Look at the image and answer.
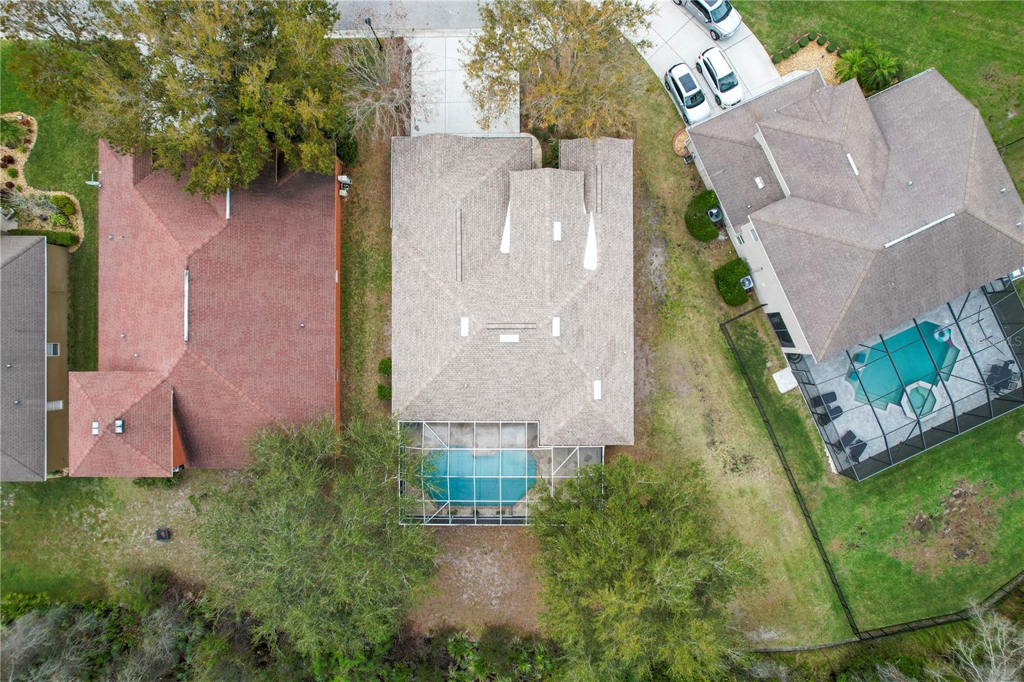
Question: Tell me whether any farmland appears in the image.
No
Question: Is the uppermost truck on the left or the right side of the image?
right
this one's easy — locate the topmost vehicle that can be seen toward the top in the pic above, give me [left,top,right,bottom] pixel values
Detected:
[677,0,744,41]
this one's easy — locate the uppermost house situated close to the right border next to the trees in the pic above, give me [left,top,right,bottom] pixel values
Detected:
[687,65,1024,364]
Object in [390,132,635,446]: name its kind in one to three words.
house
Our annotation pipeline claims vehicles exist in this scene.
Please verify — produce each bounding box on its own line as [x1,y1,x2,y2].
[677,0,744,41]
[696,42,747,109]
[665,60,714,127]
